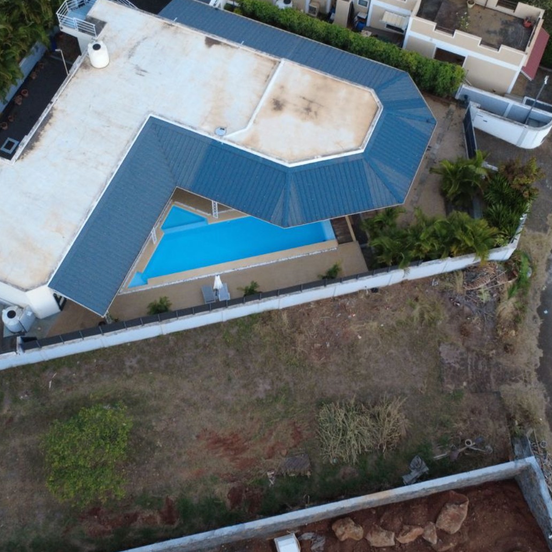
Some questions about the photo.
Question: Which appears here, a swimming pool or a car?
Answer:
swimming pool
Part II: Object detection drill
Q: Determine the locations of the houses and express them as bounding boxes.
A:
[0,0,436,324]
[274,0,550,93]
